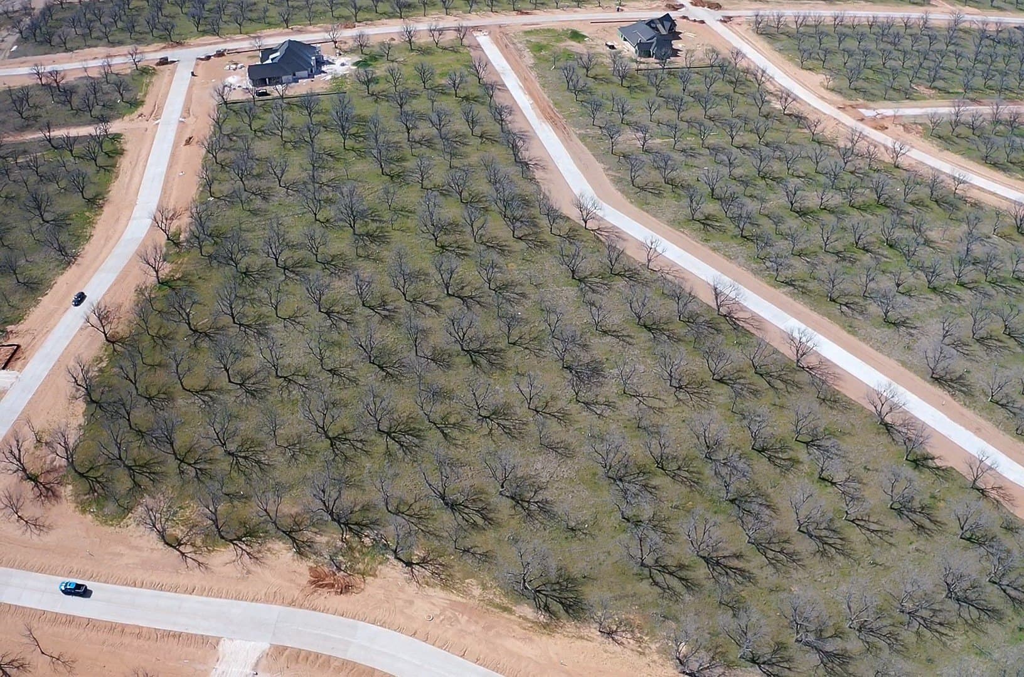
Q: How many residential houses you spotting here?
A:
2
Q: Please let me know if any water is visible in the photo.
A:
No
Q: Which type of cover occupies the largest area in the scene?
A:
grass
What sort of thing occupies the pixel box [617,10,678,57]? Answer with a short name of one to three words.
house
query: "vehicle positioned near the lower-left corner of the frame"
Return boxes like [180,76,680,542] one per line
[56,581,88,596]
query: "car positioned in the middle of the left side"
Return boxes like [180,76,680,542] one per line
[70,292,86,304]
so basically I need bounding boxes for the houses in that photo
[251,37,326,86]
[617,10,678,57]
